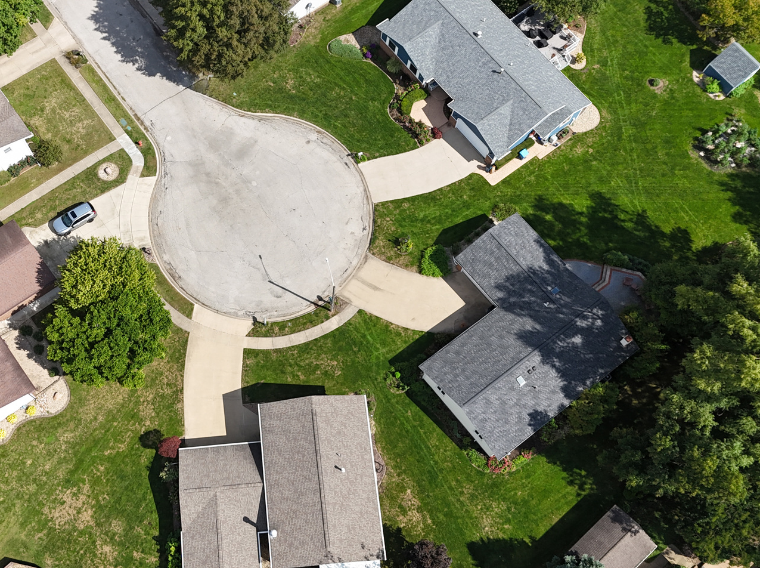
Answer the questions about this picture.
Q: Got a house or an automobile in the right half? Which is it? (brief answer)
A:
house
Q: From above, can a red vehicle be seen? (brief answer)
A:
No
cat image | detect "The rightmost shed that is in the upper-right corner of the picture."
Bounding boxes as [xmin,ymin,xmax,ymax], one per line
[700,42,760,98]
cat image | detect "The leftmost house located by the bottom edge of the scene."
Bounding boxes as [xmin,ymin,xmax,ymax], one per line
[174,394,387,568]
